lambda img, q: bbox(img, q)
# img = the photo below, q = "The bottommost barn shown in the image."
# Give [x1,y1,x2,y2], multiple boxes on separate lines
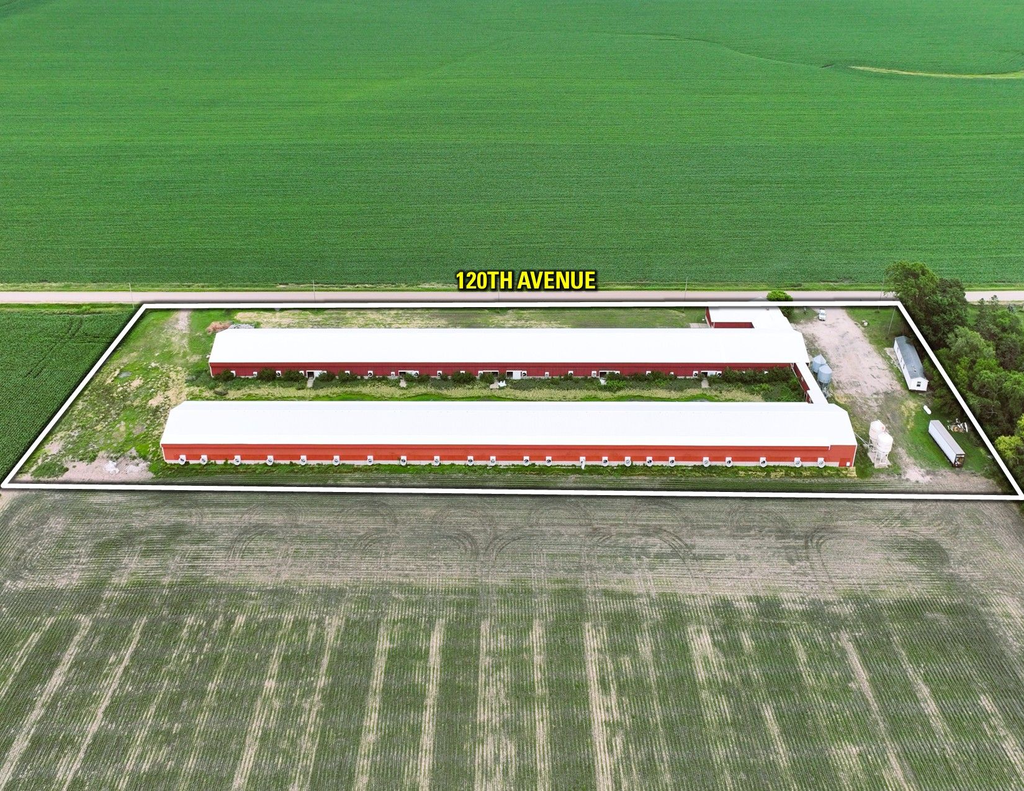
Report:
[160,401,858,468]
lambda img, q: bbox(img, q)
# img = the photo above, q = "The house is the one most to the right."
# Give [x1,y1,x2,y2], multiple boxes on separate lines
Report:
[896,340,930,390]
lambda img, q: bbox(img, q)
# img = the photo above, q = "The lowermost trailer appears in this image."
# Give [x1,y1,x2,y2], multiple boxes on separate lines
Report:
[928,420,965,465]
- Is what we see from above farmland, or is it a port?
farmland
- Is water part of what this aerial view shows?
No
